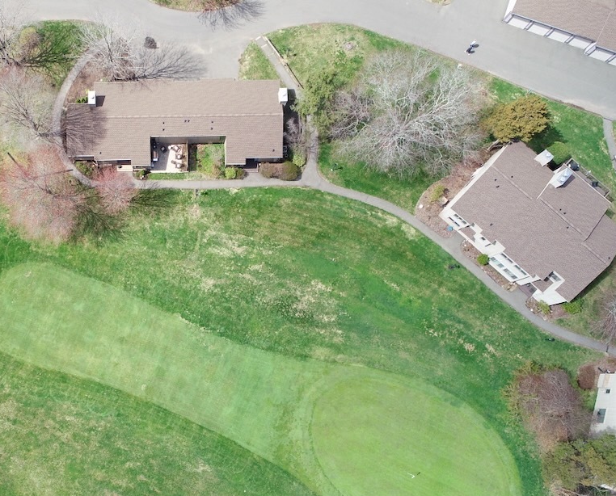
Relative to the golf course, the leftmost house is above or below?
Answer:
above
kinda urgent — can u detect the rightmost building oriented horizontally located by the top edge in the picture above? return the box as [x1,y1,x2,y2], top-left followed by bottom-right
[503,0,613,46]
